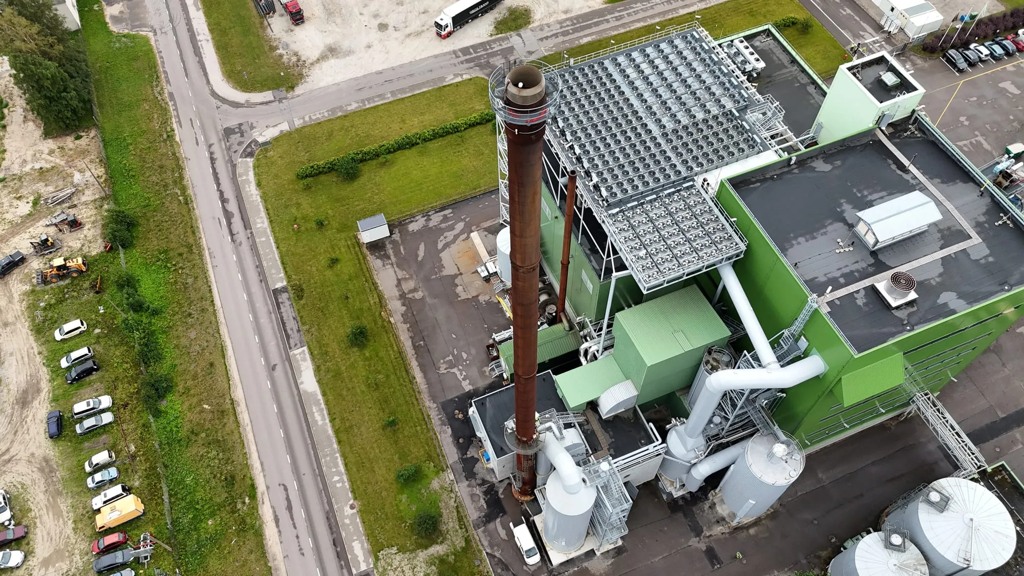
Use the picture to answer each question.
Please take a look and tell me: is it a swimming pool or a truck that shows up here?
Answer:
truck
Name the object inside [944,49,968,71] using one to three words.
car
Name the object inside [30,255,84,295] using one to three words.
work vehicle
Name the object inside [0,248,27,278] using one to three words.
truck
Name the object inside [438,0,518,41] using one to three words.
truck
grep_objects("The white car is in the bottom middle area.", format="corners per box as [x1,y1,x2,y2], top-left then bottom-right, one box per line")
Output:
[508,519,540,565]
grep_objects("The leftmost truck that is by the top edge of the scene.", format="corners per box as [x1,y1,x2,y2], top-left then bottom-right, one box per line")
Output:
[271,0,300,22]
